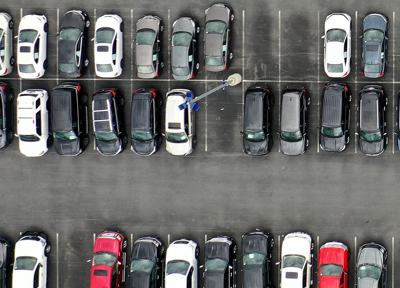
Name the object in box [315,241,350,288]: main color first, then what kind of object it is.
red truck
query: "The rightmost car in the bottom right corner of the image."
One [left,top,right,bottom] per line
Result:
[353,243,387,288]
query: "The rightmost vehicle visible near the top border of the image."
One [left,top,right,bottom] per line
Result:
[359,13,391,78]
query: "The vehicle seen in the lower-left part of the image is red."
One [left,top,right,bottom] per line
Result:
[84,231,125,288]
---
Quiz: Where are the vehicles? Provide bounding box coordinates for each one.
[168,16,201,80]
[322,13,353,78]
[353,243,387,288]
[198,236,235,288]
[161,89,199,155]
[126,87,165,156]
[160,239,200,288]
[89,87,126,156]
[123,236,163,288]
[315,241,350,288]
[201,3,235,72]
[56,9,91,78]
[132,15,166,79]
[277,231,313,288]
[239,85,276,156]
[15,14,50,79]
[13,89,50,157]
[8,231,50,288]
[359,13,391,78]
[84,231,125,288]
[316,82,353,153]
[0,13,16,76]
[0,236,14,288]
[354,85,389,157]
[47,82,89,156]
[235,230,274,288]
[91,14,125,78]
[0,82,15,148]
[275,85,311,156]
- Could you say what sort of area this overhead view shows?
parking lot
